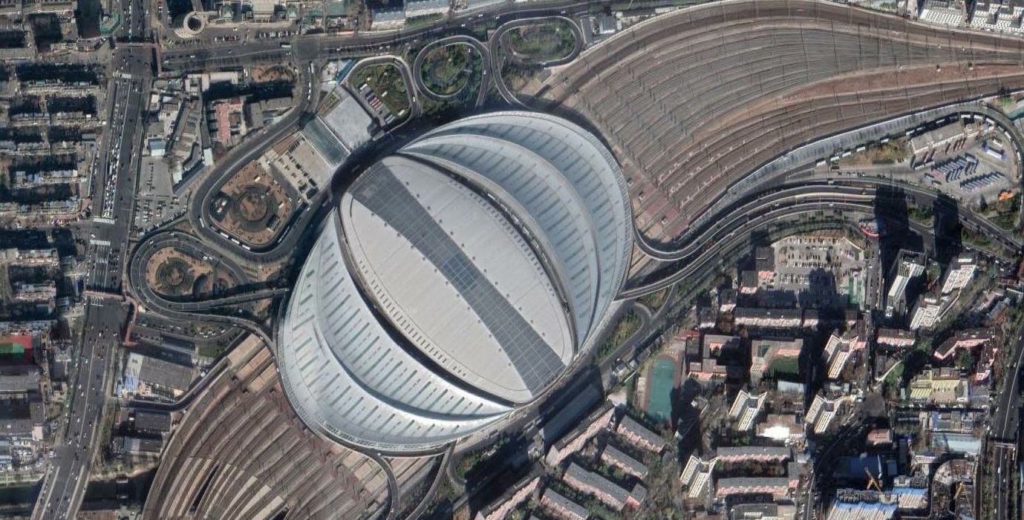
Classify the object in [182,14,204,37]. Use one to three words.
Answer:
building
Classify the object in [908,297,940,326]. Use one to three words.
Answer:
building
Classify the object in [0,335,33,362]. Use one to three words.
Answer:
sports court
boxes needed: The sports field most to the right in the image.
[767,352,800,375]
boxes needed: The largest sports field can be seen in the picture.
[639,352,680,432]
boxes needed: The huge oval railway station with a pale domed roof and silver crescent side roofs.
[278,110,632,452]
